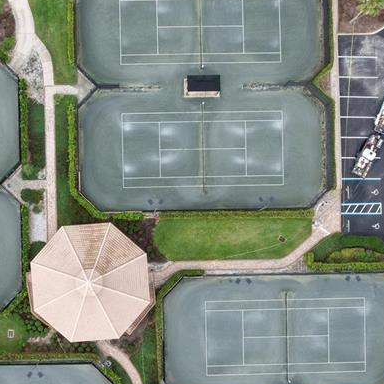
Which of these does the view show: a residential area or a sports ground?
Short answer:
sports ground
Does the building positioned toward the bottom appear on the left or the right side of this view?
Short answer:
left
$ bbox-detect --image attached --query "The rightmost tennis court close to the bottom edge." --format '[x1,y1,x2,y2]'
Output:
[163,273,384,384]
